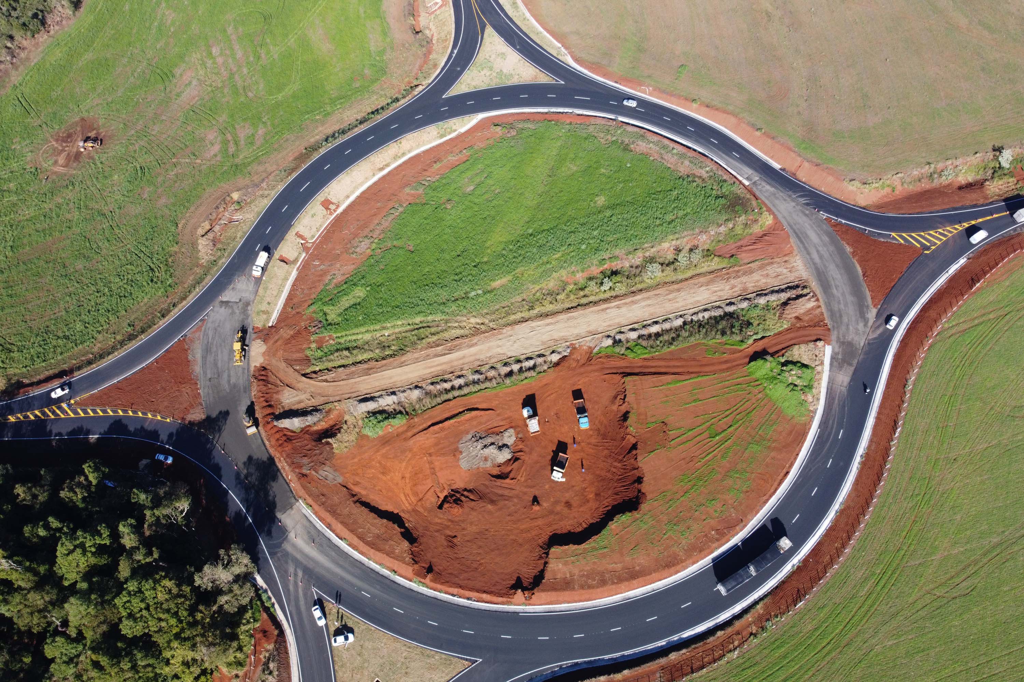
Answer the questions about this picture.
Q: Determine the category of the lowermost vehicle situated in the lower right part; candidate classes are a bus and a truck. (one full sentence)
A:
Looking closely, the lowermost vehicle situated in the lower right part is a truck.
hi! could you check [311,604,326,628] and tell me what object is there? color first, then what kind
white car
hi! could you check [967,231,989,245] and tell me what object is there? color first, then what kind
white vehicle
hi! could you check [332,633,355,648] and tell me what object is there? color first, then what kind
white car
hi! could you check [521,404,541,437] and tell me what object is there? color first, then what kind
white vehicle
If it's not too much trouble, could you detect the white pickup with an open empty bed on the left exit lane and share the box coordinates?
[49,384,72,400]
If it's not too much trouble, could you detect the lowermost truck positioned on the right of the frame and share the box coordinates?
[715,534,794,597]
